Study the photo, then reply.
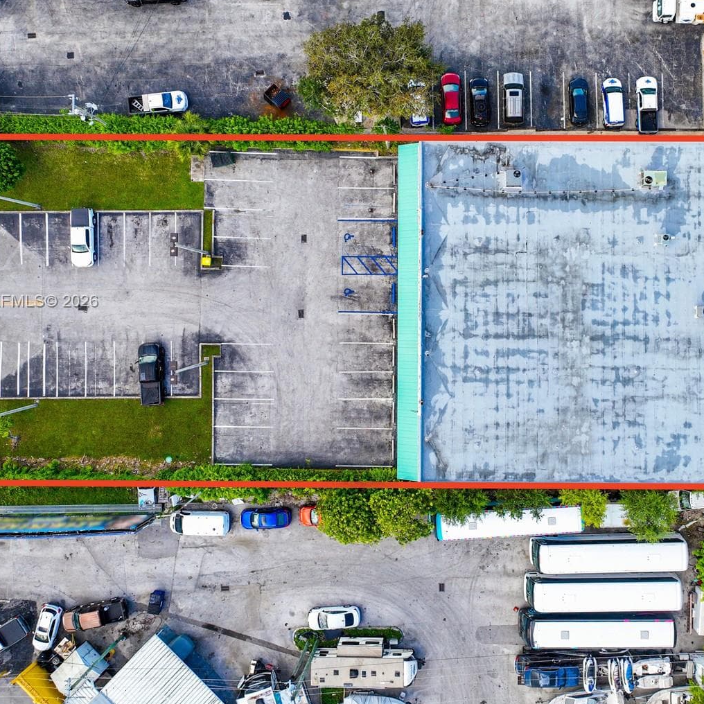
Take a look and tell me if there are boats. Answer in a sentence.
Yes, the picture does show a boat.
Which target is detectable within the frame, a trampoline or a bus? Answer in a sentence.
The one in the frame is a bus.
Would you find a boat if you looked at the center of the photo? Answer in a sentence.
No, the scene shows no boat at the center of the photo.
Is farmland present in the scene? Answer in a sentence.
No, the picture contains no farmland.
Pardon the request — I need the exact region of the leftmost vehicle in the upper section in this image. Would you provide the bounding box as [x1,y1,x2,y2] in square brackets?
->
[69,208,97,266]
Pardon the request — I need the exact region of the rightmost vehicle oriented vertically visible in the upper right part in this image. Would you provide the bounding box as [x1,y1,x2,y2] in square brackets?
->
[635,77,661,135]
